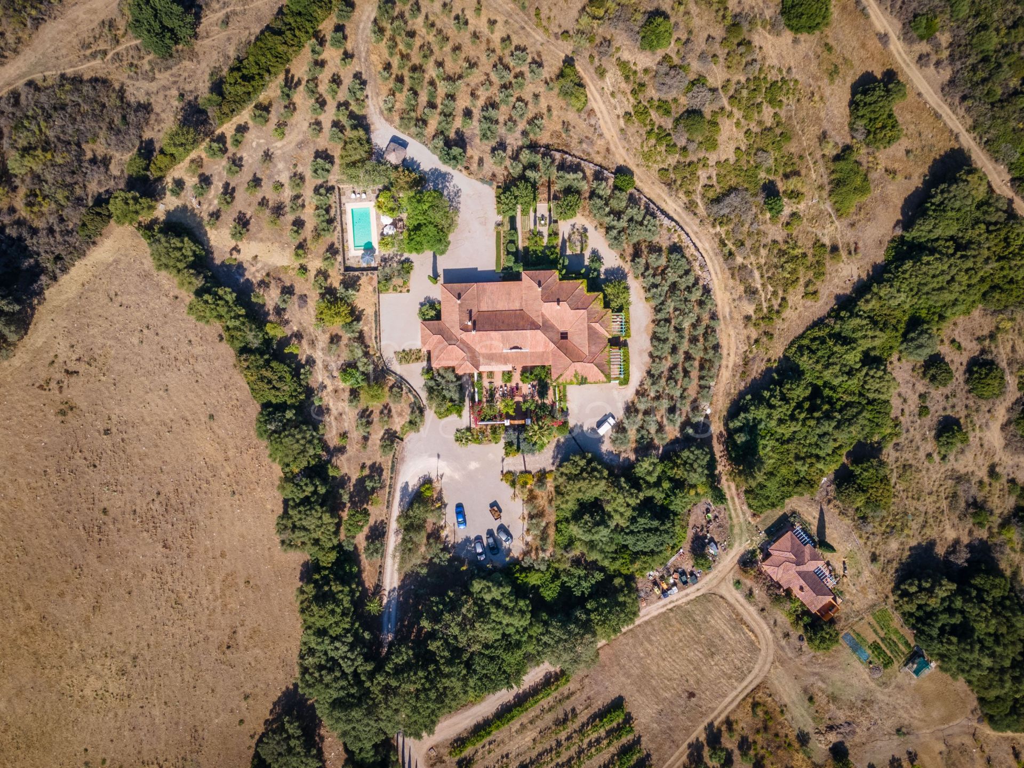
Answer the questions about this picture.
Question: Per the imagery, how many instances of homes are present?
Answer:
two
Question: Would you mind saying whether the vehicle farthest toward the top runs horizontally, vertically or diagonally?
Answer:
diagonally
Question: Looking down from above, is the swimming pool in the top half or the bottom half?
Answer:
top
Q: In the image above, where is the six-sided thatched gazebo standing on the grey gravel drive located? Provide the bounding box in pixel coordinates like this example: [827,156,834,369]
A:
[385,143,408,167]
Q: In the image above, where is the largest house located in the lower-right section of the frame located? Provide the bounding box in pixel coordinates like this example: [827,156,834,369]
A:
[762,530,842,622]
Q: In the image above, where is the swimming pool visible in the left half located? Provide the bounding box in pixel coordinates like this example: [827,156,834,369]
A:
[346,202,378,256]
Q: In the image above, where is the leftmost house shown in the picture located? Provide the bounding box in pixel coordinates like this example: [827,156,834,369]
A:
[420,270,612,383]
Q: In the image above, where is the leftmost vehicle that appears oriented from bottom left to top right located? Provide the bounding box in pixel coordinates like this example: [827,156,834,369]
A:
[595,414,617,437]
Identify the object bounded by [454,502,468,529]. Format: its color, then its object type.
blue car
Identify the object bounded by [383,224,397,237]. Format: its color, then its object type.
white umbrella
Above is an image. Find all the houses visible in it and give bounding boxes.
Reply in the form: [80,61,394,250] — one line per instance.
[762,530,842,622]
[420,270,612,383]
